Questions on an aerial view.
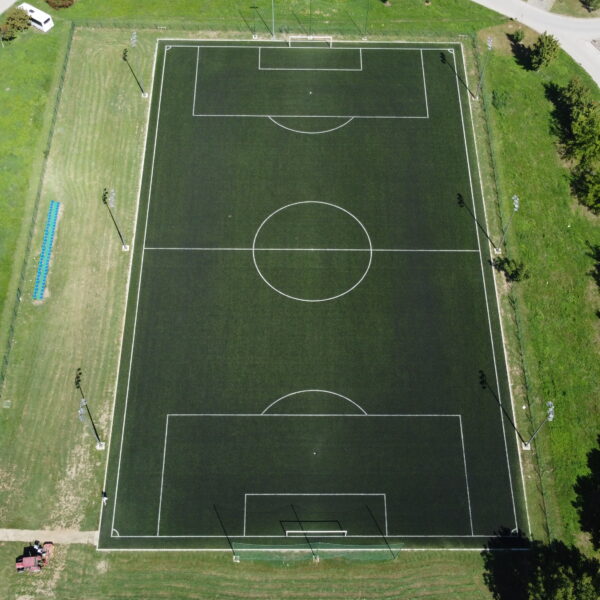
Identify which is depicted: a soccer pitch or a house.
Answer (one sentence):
Visible in the photo is a soccer pitch.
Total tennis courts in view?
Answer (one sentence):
I count no tennis courts.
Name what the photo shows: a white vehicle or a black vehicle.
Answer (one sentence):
The image shows a white vehicle.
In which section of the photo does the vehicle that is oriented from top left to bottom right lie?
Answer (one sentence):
The vehicle that is oriented from top left to bottom right is located in the top left region of the scene.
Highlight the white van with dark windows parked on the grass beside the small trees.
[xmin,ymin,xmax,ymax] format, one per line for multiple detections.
[18,5,56,32]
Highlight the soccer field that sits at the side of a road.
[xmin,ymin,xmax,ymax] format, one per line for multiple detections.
[96,39,534,551]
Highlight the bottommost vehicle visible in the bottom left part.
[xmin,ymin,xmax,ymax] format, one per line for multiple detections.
[14,543,54,574]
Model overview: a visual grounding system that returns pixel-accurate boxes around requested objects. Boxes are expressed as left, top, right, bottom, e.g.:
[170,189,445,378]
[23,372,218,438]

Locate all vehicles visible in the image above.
[14,543,54,574]
[18,5,56,32]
